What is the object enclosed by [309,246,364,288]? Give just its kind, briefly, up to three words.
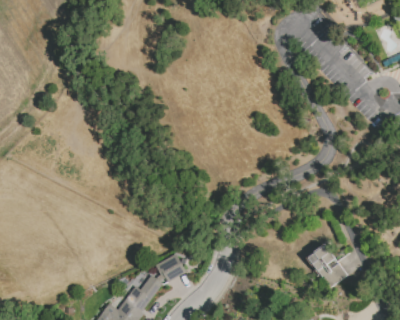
house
